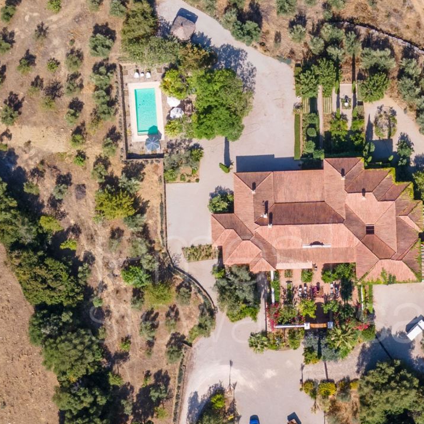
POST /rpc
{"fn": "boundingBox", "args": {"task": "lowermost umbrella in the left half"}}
[145,135,161,152]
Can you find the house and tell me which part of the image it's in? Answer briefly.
right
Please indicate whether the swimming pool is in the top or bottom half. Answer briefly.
top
